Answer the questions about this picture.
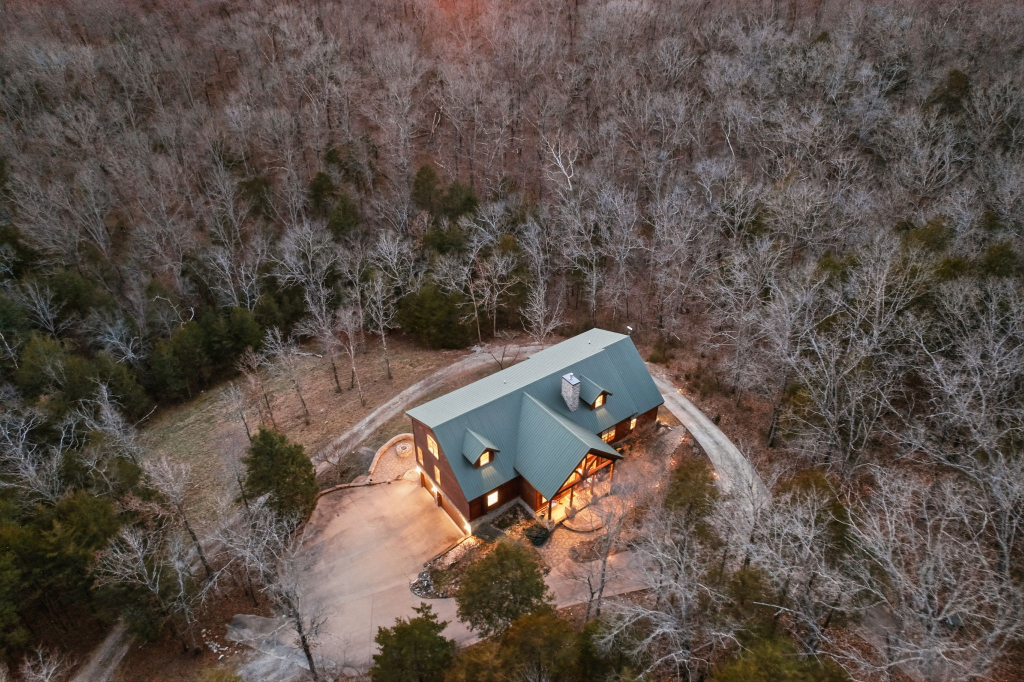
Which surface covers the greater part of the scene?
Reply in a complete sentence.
For the most part, this view shows trees.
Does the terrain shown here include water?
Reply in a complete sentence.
No, there is no water in the image.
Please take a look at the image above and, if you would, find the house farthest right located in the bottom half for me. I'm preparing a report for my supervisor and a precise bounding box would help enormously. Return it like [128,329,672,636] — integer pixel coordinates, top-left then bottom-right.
[405,328,665,538]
